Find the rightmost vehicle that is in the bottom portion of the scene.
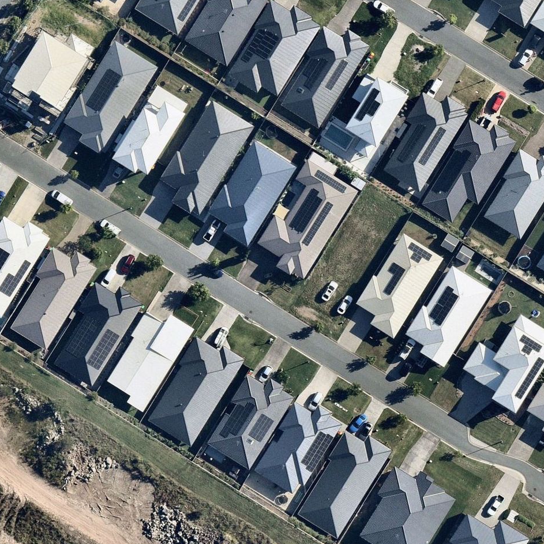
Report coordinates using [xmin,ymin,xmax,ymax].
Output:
[488,494,505,518]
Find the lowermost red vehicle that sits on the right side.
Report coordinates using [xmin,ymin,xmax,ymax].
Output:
[491,91,508,112]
